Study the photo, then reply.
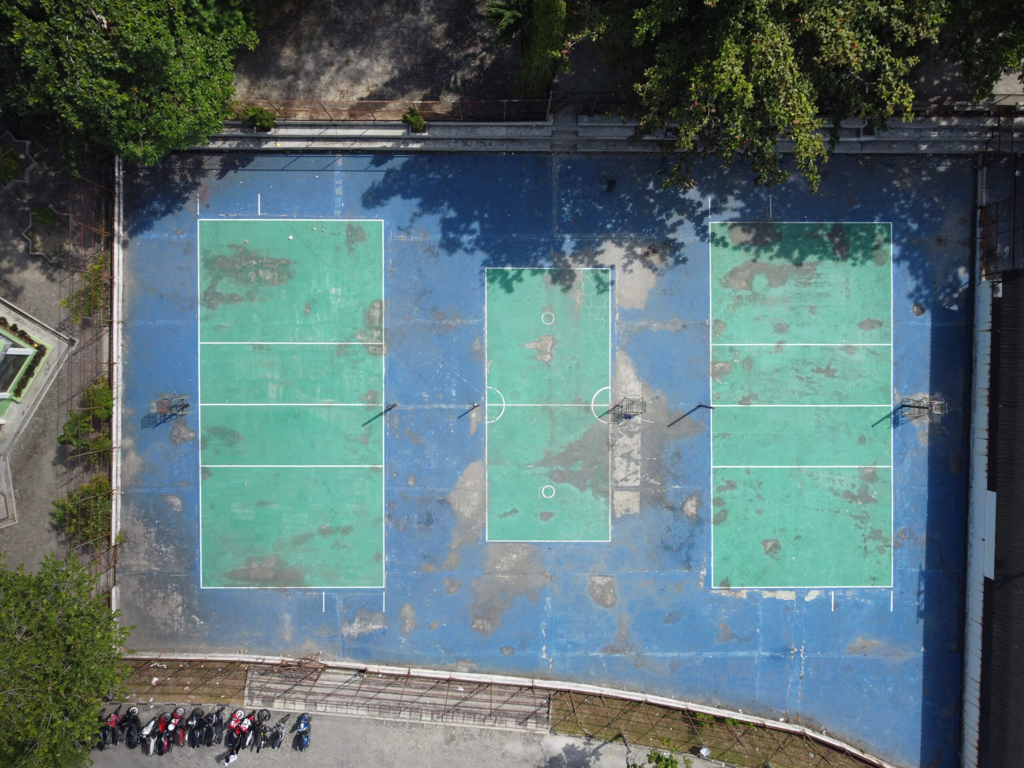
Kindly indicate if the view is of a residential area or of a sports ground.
sports ground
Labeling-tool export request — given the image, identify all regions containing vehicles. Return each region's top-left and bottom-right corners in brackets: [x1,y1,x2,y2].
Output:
[290,711,310,759]
[104,704,124,751]
[220,708,244,754]
[247,709,269,755]
[234,708,256,754]
[180,707,202,754]
[146,711,170,758]
[200,706,223,751]
[270,710,292,753]
[115,705,139,752]
[133,713,157,760]
[162,706,185,753]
